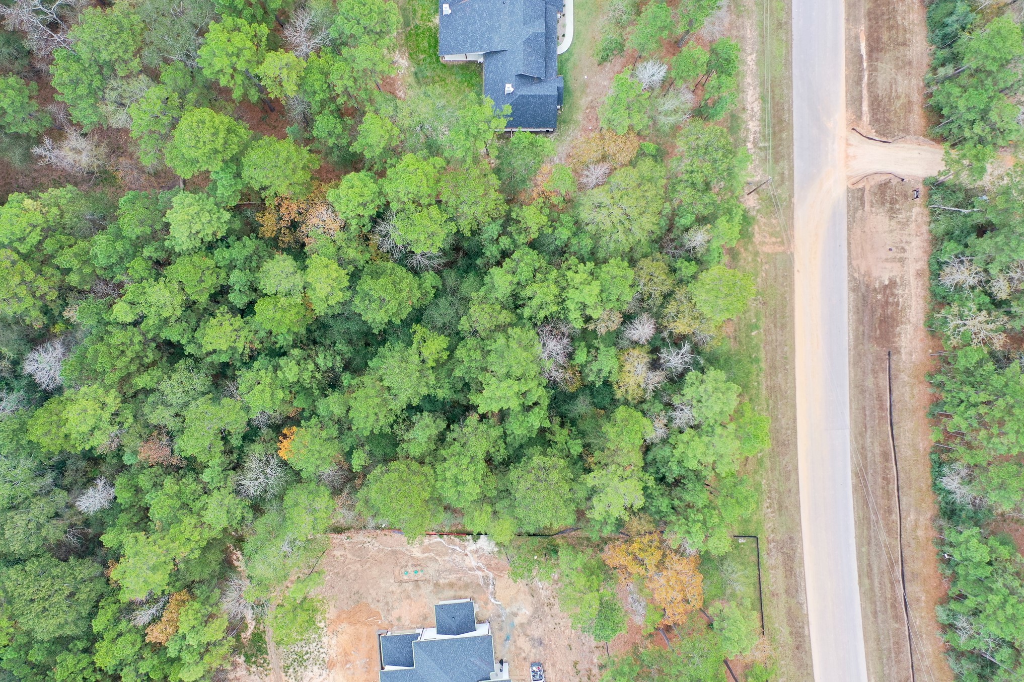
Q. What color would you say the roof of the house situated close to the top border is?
blue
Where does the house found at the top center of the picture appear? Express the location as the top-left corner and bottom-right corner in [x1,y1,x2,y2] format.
[439,0,563,132]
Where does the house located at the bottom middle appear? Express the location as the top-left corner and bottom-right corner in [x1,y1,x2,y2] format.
[376,596,511,682]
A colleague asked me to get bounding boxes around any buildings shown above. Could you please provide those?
[439,0,563,132]
[376,596,511,682]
